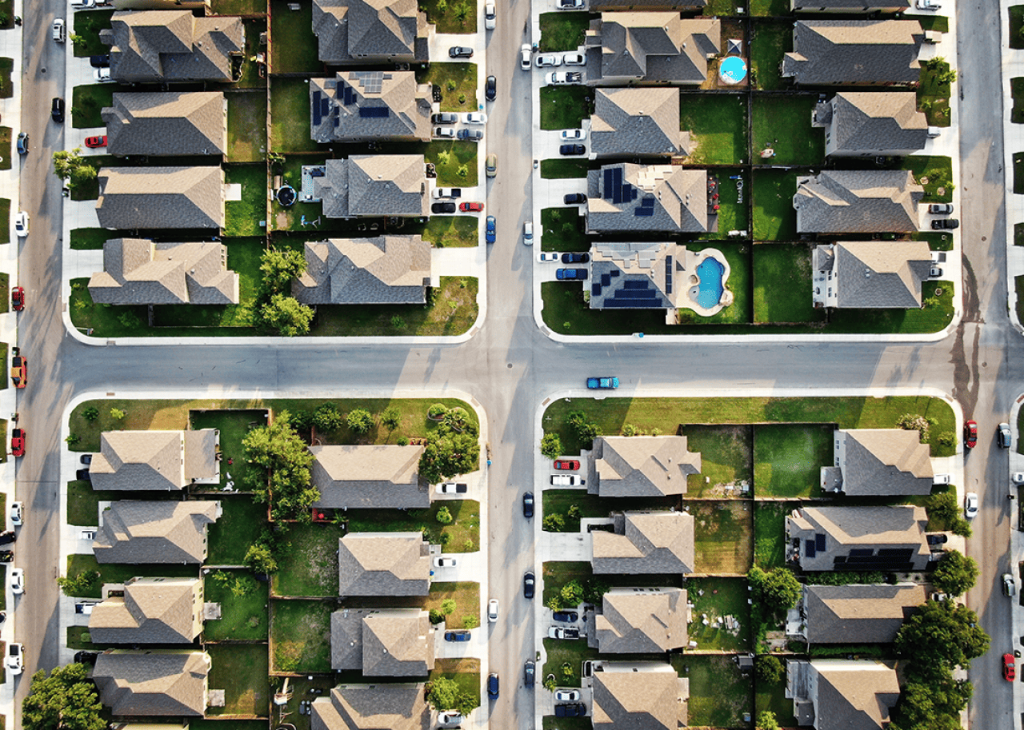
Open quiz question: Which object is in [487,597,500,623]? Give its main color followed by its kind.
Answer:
white vehicle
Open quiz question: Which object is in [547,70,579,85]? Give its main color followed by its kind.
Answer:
white vehicle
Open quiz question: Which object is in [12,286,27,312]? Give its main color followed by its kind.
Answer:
red car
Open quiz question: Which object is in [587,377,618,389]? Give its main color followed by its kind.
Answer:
blue vehicle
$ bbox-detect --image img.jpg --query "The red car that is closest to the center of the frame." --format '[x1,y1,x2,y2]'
[554,459,580,471]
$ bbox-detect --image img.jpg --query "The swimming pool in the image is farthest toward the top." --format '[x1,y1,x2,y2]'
[719,56,748,85]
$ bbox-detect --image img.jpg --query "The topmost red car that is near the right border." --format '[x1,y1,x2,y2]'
[963,421,978,447]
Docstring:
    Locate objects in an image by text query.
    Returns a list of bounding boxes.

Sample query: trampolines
[275,183,297,205]
[275,720,296,730]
